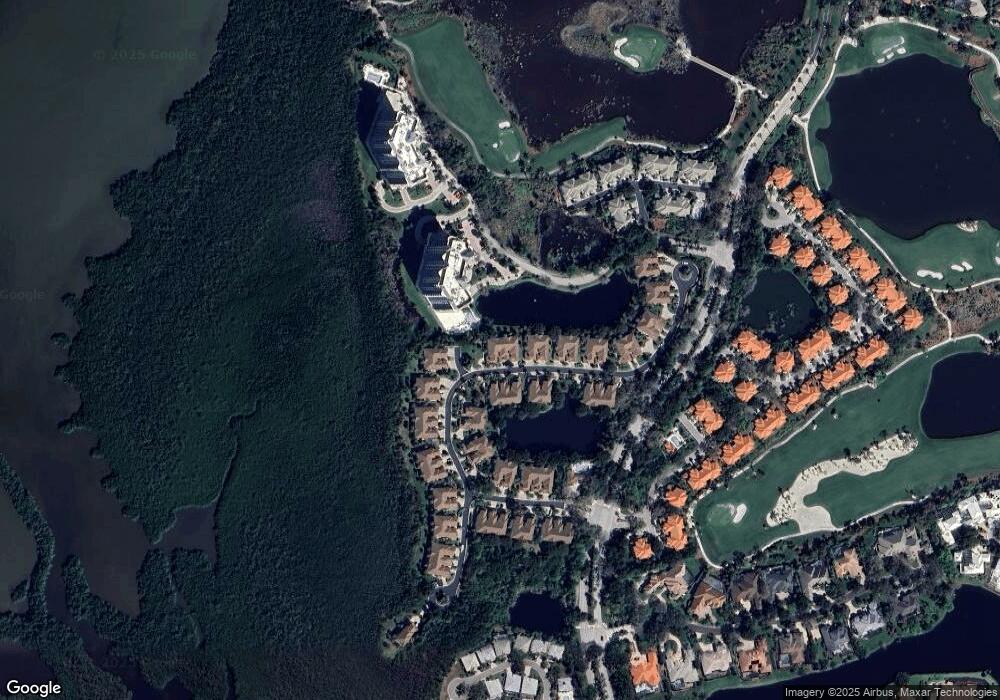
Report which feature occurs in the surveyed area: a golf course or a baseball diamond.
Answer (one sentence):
I can see a golf course in this picture.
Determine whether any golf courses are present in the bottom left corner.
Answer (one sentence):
No, there is no golf course in the bottom left corner.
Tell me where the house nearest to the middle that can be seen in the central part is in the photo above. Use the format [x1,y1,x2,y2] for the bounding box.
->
[486,336,520,363]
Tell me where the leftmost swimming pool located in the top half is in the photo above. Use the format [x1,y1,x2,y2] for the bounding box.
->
[363,63,391,85]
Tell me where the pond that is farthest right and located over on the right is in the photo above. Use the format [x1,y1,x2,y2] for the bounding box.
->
[920,351,1000,439]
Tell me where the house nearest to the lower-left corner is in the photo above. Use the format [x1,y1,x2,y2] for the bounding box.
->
[391,616,419,647]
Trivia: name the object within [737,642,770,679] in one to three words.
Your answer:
house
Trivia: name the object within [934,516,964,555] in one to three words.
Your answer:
house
